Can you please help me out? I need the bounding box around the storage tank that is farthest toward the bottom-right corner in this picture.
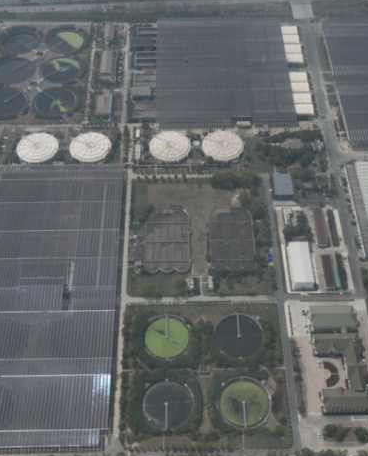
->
[217,376,273,430]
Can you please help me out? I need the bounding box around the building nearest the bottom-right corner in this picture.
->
[319,383,368,414]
